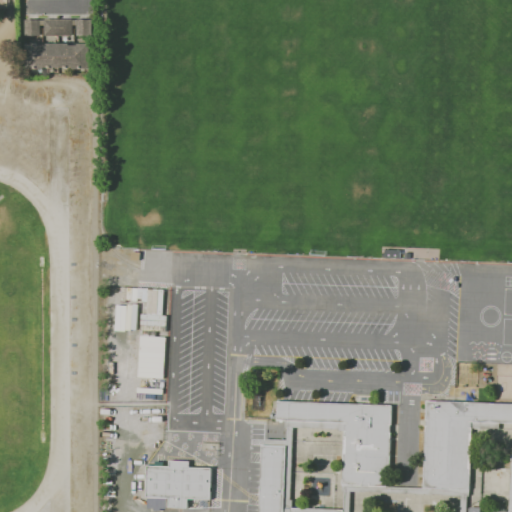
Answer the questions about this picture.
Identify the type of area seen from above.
sports ground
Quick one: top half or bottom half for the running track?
bottom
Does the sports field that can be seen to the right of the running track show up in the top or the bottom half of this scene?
top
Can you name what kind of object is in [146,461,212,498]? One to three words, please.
building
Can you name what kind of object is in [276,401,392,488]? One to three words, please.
building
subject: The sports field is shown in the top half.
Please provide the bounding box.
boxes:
[104,0,512,264]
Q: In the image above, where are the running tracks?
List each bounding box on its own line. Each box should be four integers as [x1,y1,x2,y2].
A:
[0,162,70,512]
